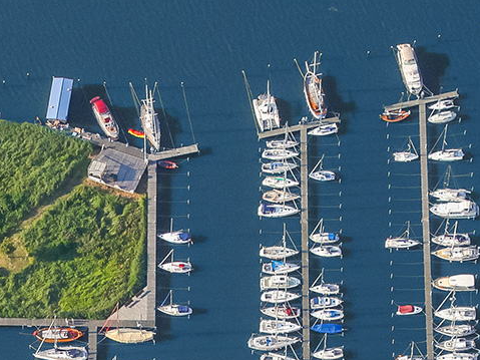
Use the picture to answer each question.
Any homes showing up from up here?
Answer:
Yes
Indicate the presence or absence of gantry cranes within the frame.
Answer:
No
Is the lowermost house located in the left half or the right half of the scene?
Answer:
left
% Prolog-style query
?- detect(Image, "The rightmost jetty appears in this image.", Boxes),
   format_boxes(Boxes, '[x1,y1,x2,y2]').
[383,91,459,360]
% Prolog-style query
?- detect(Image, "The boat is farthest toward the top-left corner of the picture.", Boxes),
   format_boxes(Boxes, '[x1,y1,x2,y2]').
[90,94,115,138]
